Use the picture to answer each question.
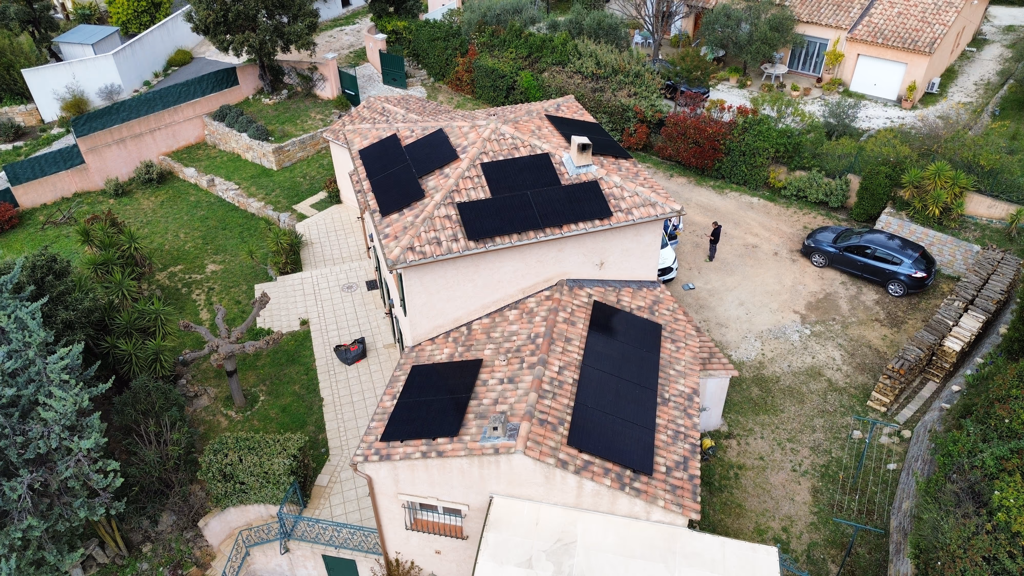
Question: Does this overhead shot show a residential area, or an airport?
residential area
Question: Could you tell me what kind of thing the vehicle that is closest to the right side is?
automobile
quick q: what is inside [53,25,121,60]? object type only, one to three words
shed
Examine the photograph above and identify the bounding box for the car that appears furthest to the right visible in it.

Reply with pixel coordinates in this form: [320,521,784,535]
[801,225,944,298]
